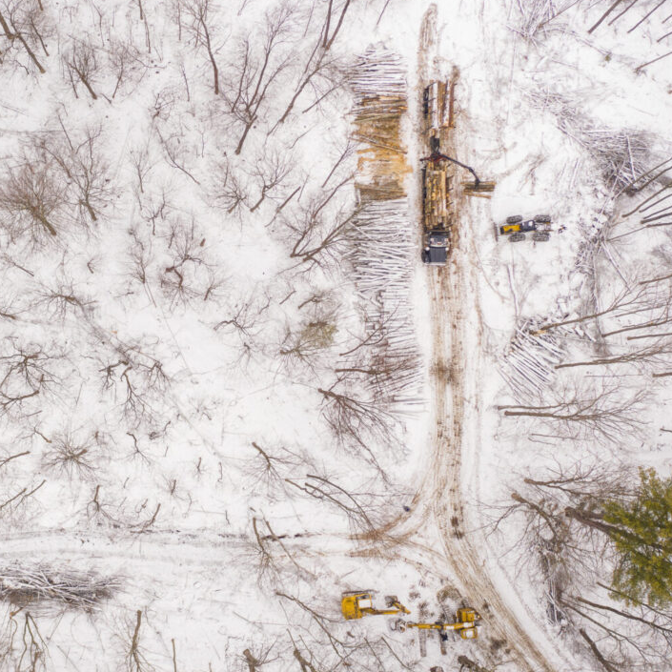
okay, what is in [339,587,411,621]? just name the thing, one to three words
work vehicle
